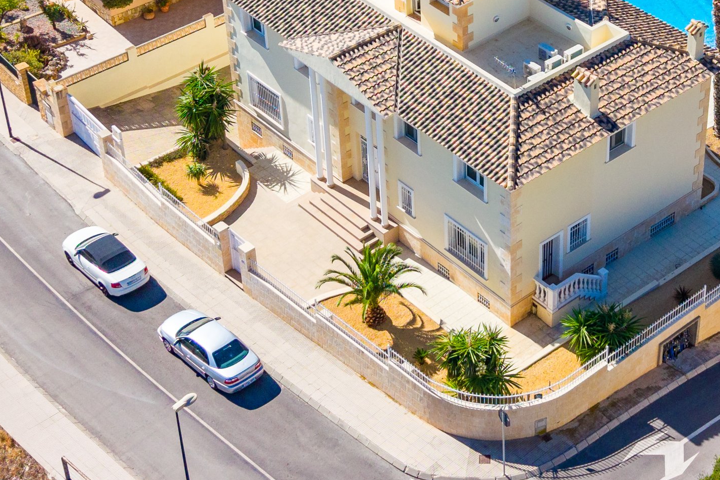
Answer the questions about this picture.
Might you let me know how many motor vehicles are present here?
2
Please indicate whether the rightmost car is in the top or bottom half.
bottom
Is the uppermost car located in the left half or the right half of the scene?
left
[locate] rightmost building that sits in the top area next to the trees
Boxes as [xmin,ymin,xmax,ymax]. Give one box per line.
[222,0,720,327]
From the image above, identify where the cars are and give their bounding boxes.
[155,305,259,391]
[58,222,149,297]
